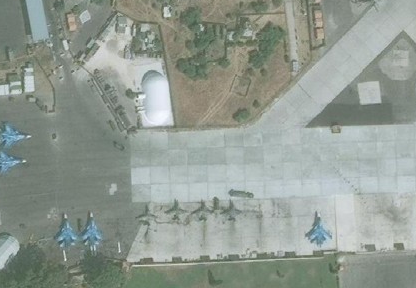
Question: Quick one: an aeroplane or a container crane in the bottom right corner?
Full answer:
Looking in the bottom right corner, you will find an aeroplane.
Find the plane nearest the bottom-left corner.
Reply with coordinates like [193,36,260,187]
[54,214,77,249]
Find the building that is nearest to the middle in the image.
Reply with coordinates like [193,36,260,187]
[134,72,171,124]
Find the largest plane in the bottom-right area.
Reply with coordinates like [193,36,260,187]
[307,213,330,249]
